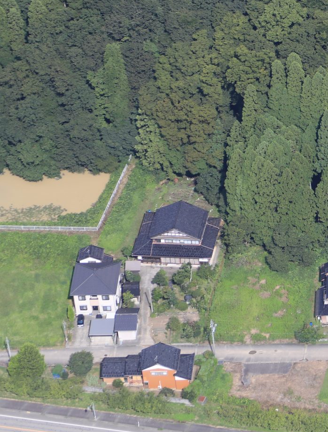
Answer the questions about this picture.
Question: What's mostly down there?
trees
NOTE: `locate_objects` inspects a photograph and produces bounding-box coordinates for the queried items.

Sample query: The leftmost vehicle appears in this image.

[74,312,87,327]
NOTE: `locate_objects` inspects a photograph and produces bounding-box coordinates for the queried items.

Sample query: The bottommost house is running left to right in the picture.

[99,341,207,393]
